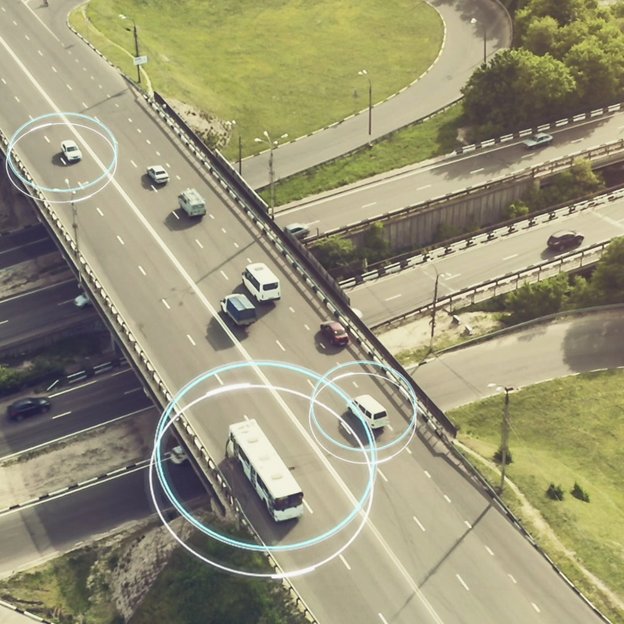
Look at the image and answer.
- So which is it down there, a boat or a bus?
bus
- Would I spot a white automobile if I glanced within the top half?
Yes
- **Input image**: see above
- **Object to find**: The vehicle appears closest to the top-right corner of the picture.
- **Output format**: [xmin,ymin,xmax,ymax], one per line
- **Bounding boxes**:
[523,133,554,149]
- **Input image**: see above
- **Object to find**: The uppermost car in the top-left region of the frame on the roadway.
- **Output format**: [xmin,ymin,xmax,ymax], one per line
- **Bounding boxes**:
[61,142,82,161]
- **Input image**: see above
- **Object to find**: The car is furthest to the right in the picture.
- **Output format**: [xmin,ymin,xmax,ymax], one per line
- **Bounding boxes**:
[547,231,584,251]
